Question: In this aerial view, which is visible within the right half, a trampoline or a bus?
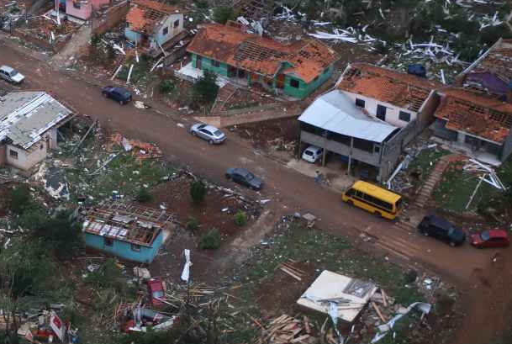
bus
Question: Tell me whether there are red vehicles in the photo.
Yes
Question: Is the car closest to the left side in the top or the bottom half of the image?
top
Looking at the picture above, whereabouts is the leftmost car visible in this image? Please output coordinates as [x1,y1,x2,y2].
[0,63,25,84]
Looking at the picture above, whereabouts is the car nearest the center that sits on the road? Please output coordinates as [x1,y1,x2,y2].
[226,167,264,190]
